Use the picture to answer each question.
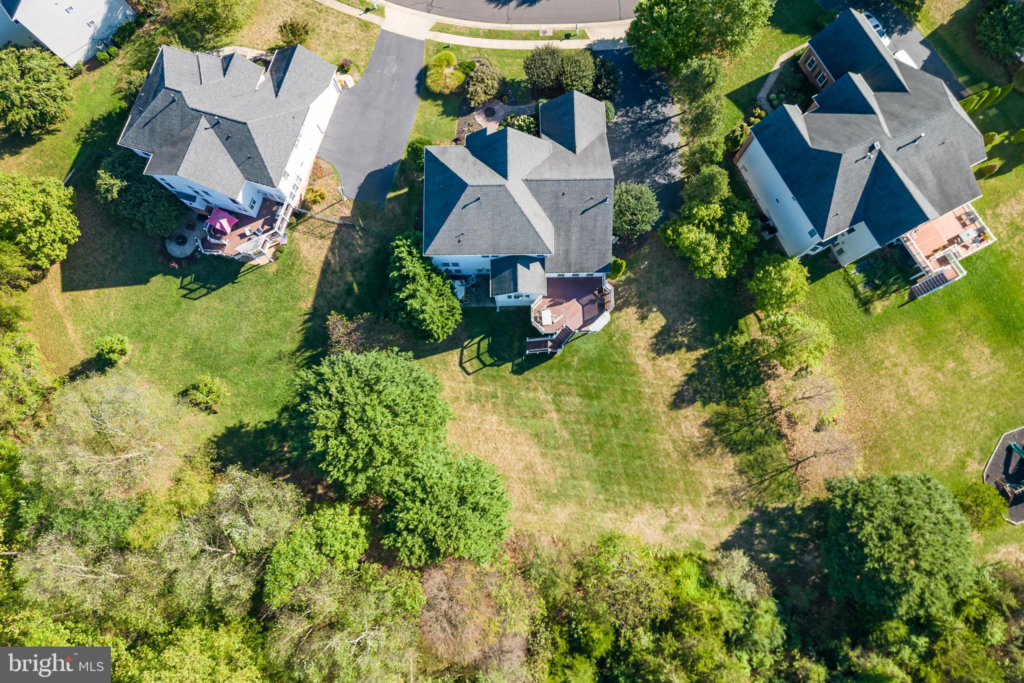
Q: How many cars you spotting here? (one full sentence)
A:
The photo contains 2 cars.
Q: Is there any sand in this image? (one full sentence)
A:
No, there is no sand in the image.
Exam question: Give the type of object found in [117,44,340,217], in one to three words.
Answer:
house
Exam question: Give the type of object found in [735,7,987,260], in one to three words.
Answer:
house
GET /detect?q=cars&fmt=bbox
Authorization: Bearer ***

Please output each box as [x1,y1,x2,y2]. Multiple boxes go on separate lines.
[893,44,923,71]
[864,10,895,45]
